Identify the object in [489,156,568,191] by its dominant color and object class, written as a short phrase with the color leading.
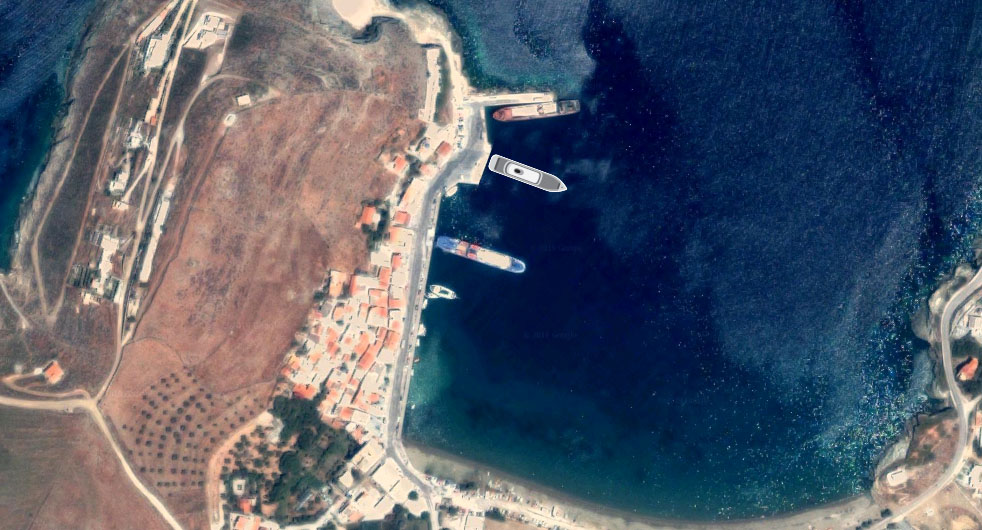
white ship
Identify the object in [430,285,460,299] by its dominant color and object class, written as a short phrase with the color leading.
white boat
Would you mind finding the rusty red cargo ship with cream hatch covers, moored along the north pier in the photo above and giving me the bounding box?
[489,100,580,123]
